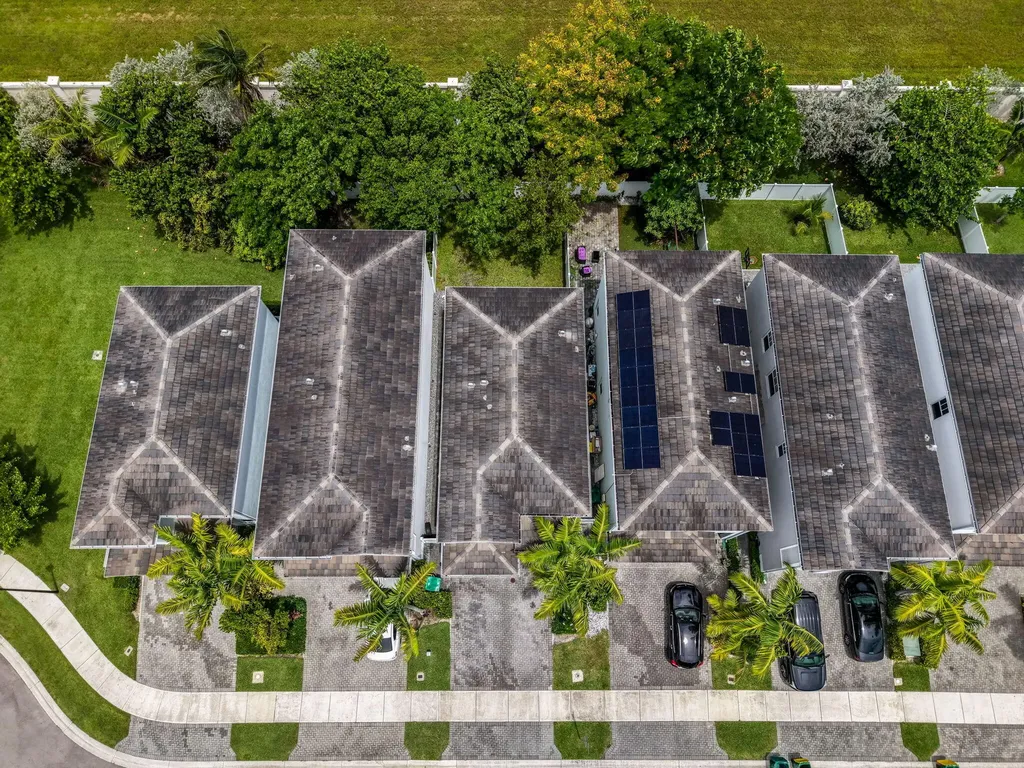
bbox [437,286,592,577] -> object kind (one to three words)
house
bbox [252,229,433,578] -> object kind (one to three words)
house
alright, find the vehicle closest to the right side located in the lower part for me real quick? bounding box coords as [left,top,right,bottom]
[834,571,889,663]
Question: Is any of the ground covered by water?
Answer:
No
